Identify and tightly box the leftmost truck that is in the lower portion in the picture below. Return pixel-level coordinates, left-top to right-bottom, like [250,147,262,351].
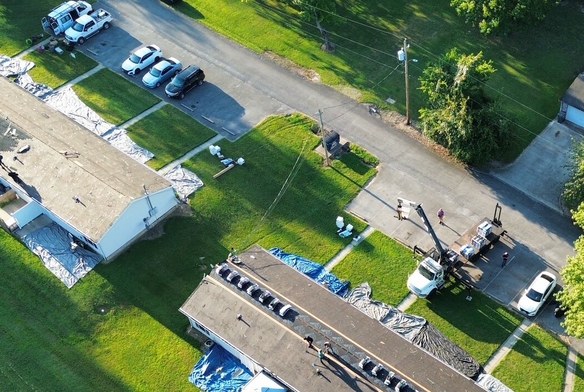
[386,199,511,309]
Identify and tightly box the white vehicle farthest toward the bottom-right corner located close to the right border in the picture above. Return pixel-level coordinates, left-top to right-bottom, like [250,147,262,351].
[514,270,564,320]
